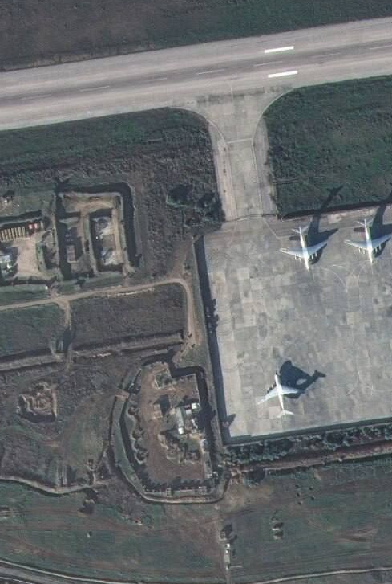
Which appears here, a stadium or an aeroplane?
aeroplane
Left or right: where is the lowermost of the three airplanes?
right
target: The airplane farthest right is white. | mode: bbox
[343,220,391,265]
